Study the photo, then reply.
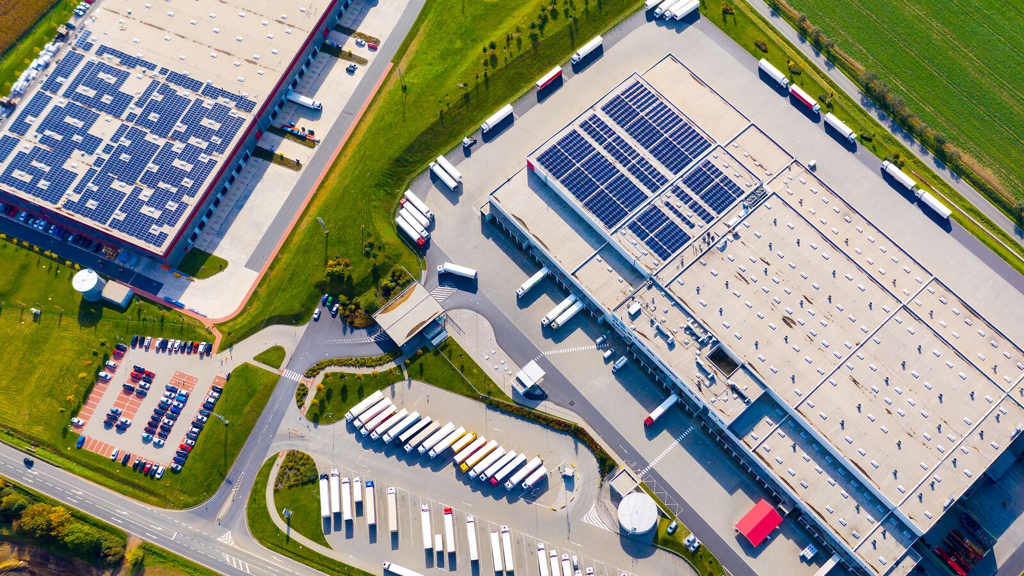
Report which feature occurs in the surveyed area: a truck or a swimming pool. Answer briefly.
truck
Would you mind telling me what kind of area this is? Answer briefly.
industrial area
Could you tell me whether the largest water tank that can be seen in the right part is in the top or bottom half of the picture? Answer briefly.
bottom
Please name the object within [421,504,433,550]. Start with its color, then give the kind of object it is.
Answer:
white vehicle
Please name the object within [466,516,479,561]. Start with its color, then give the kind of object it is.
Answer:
white vehicle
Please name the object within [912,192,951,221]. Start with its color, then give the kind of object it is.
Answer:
white truck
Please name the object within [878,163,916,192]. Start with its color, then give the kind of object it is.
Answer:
white truck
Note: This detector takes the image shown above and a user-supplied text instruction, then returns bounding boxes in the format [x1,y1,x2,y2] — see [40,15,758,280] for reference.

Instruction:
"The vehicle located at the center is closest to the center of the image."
[516,268,550,299]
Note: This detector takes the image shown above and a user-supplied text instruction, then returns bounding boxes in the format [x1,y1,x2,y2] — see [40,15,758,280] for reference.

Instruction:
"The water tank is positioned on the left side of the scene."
[72,269,108,300]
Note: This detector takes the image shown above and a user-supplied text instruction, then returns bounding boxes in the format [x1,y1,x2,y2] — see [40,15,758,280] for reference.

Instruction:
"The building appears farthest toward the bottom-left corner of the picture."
[101,280,136,308]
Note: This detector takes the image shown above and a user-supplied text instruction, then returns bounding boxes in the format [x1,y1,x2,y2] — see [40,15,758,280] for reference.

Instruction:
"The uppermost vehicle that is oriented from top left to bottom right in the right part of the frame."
[756,60,788,91]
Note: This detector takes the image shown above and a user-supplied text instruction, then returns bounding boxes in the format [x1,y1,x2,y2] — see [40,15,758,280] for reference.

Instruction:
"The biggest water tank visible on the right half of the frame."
[616,492,658,535]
